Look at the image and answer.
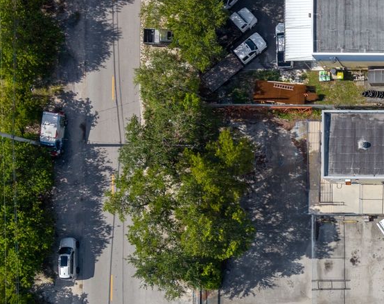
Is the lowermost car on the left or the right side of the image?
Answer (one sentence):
The lowermost car sits on the left side.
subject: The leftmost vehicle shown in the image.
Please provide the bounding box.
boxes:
[37,109,66,158]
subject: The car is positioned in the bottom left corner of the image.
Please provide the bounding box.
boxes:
[56,238,80,279]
